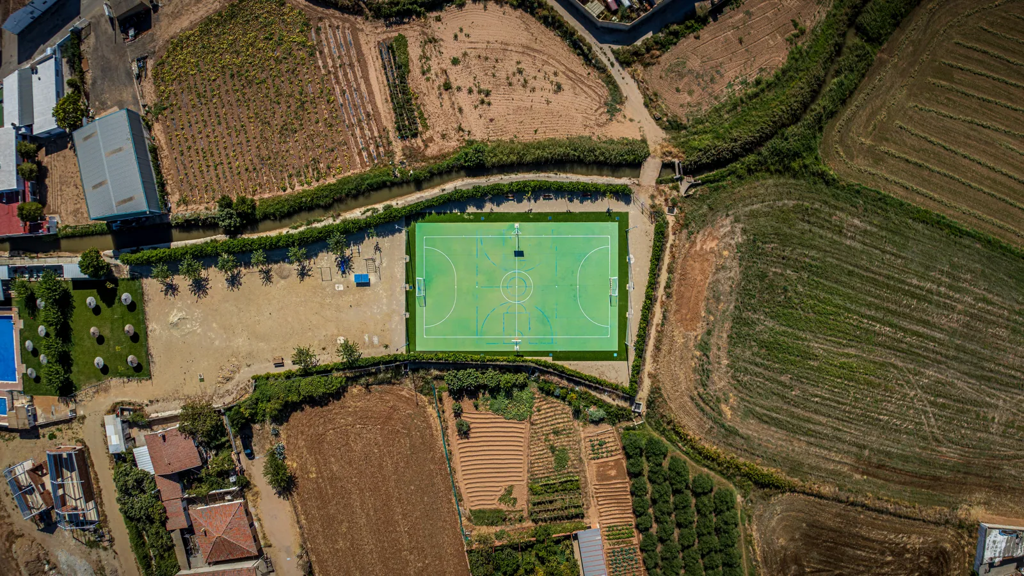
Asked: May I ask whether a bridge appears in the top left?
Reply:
No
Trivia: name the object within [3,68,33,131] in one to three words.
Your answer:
building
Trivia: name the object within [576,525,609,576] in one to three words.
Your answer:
shed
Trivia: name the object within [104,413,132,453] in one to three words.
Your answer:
shed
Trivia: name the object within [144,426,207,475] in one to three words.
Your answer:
house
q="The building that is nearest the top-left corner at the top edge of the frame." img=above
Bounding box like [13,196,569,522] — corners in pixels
[2,0,76,40]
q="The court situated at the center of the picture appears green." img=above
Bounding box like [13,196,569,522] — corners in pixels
[416,222,619,351]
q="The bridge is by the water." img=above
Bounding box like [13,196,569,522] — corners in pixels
[639,155,663,186]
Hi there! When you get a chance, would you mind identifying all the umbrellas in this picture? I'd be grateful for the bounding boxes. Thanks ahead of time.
[23,341,34,352]
[127,355,138,365]
[26,367,37,378]
[121,293,132,304]
[85,295,96,306]
[38,354,48,364]
[36,326,47,336]
[89,326,100,337]
[124,324,134,335]
[93,357,104,367]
